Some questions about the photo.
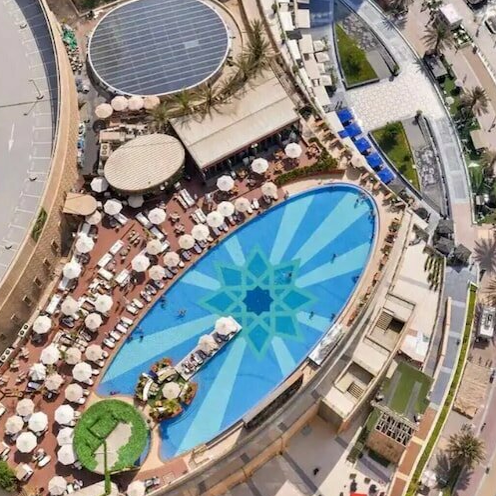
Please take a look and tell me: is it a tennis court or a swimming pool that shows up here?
swimming pool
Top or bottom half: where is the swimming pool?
bottom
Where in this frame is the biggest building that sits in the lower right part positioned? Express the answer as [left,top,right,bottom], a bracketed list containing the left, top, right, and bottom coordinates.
[317,296,415,434]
